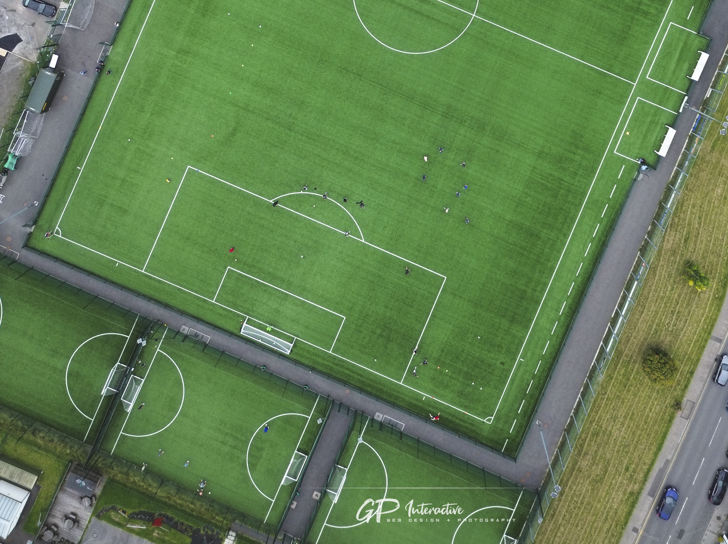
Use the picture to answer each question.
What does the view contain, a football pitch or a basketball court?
football pitch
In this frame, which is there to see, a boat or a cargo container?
cargo container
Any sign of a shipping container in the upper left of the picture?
Yes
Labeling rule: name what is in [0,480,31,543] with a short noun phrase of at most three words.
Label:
building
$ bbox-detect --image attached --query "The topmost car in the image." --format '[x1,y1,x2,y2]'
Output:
[22,0,57,17]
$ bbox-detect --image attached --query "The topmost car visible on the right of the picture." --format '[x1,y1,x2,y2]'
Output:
[713,353,728,387]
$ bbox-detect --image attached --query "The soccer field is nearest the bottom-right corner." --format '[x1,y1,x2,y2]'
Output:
[304,419,533,544]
